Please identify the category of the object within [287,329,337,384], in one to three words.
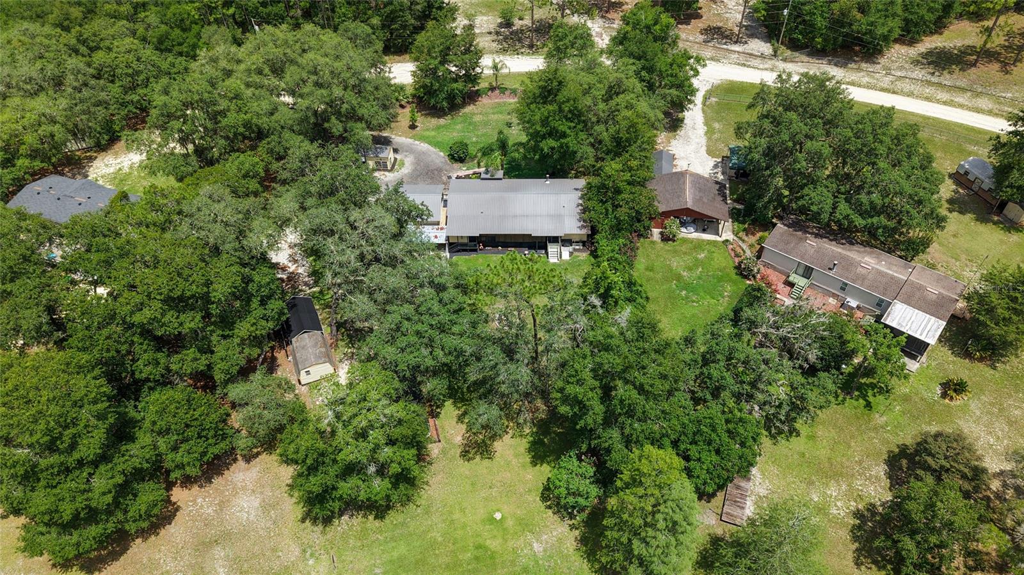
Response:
shed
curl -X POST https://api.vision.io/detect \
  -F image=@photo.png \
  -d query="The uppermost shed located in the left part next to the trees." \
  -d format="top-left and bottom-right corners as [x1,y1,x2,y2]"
[366,143,396,171]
